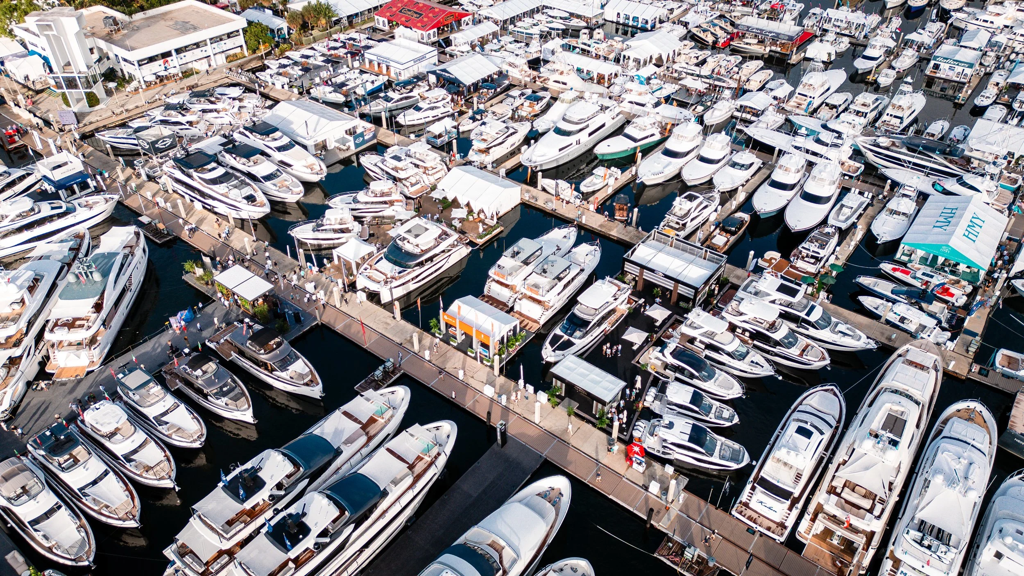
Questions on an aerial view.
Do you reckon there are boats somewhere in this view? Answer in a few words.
Yes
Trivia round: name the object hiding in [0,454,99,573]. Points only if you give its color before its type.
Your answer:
white boat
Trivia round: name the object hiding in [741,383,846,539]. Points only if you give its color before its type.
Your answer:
white boat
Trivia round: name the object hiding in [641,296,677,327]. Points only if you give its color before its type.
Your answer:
white umbrella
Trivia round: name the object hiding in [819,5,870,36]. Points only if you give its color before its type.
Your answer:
white tent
